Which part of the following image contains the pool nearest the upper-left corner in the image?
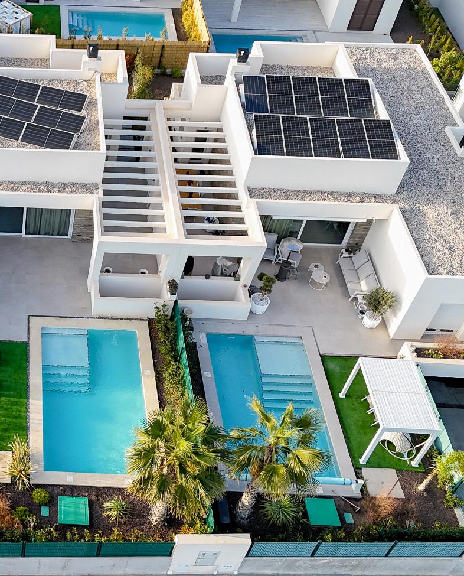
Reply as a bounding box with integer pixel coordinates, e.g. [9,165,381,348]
[59,4,179,40]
